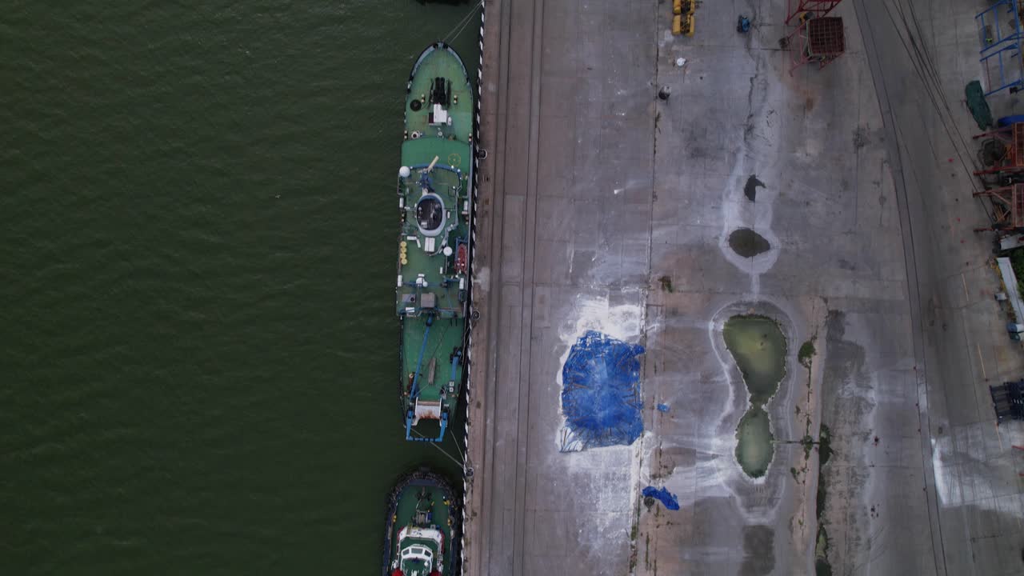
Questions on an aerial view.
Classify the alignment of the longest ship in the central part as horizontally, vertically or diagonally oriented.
vertically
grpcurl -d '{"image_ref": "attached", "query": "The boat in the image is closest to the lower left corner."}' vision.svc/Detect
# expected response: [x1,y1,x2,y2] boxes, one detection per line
[383,469,462,576]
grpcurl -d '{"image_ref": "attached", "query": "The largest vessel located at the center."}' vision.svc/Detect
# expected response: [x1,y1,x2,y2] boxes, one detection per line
[396,37,474,443]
